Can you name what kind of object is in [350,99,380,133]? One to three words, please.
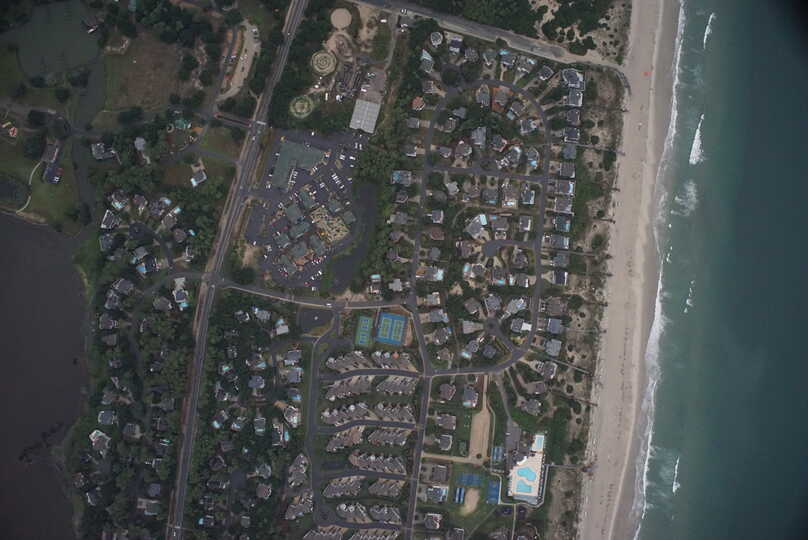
barn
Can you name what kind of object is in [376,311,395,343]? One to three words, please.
tennis court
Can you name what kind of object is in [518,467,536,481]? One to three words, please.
swimming pool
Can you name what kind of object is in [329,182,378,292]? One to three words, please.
pond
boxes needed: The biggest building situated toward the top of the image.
[273,141,325,191]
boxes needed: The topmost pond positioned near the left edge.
[0,0,107,128]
